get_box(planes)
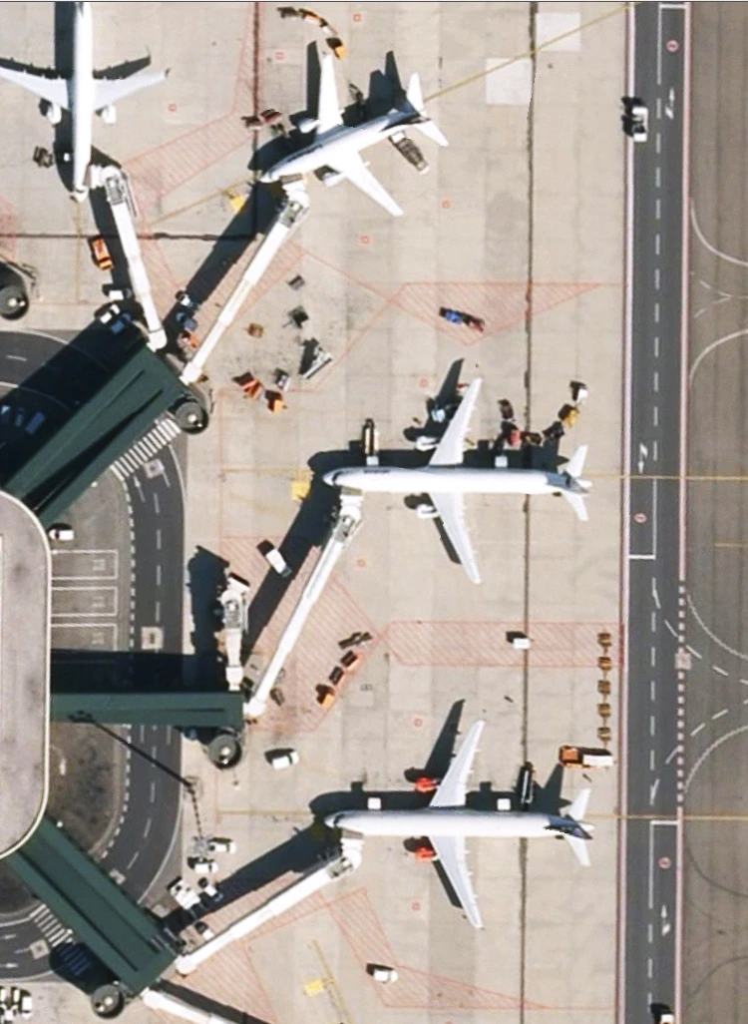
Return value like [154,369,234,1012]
[325,722,594,930]
[0,0,171,198]
[325,378,596,590]
[260,52,449,218]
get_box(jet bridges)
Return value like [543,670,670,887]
[182,173,305,393]
[133,986,219,1024]
[173,831,364,969]
[218,569,248,686]
[90,161,167,351]
[243,488,360,711]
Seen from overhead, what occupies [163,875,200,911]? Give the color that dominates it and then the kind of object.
white truck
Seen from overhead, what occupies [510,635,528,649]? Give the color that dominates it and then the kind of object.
white vehicle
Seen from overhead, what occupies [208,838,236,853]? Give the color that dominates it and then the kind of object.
white vehicle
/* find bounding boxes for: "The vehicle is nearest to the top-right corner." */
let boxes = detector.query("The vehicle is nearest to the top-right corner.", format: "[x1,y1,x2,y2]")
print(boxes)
[632,105,647,143]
